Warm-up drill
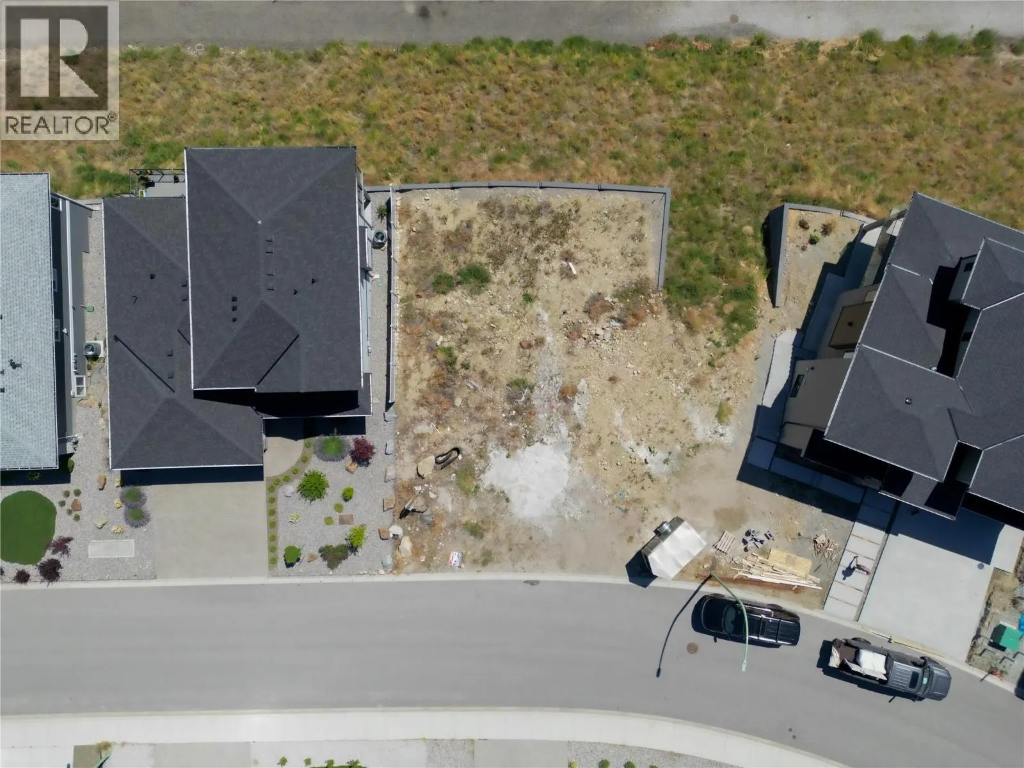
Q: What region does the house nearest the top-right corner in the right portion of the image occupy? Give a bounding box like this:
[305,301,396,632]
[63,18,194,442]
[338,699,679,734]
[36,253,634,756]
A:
[777,191,1024,520]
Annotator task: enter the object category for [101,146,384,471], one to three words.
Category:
house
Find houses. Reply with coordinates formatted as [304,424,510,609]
[777,191,1024,520]
[0,172,87,473]
[101,146,384,471]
